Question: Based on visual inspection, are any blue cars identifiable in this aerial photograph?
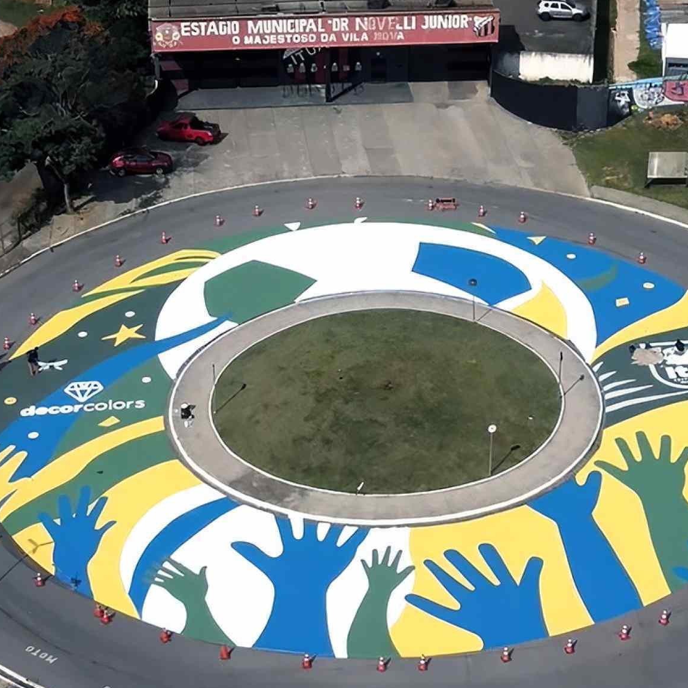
No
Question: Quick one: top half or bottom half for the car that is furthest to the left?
top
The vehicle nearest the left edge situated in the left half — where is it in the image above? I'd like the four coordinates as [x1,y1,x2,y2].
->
[110,144,172,176]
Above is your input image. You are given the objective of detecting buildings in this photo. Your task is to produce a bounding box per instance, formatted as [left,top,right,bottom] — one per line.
[147,0,502,107]
[661,0,688,74]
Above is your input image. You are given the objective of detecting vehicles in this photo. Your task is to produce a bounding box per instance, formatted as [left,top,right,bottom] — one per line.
[537,0,589,19]
[110,144,172,176]
[157,113,219,142]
